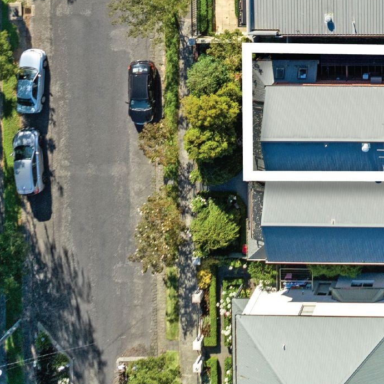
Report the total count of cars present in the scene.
3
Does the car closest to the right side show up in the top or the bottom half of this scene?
top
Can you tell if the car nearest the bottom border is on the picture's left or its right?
left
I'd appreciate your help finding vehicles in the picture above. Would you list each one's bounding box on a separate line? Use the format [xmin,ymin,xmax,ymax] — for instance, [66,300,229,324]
[126,60,160,125]
[14,131,47,199]
[15,50,50,116]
